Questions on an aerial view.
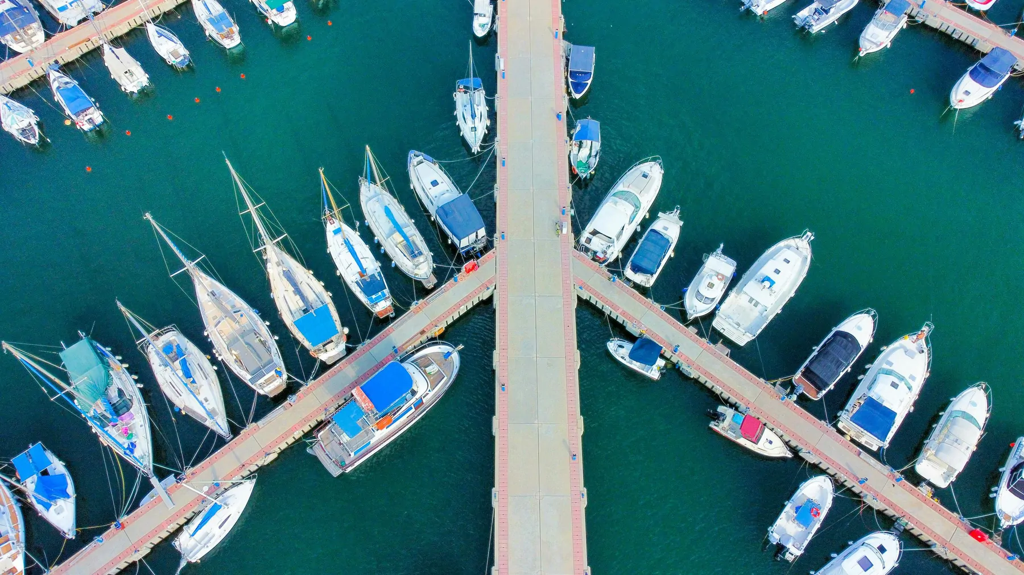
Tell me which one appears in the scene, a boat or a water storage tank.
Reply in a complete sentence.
The image shows a boat.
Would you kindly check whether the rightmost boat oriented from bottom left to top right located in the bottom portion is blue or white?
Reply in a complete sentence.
From above, the rightmost boat oriented from bottom left to top right located in the bottom portion appears white.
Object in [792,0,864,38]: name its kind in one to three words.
boat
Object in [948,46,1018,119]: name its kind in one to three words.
boat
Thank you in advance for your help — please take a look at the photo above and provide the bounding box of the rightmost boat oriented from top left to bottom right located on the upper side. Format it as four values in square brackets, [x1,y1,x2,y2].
[408,144,490,259]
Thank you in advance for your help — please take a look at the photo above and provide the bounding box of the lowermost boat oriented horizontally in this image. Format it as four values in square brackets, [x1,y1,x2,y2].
[810,535,908,575]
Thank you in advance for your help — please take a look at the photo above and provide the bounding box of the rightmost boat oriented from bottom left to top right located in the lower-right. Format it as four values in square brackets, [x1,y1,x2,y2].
[911,378,995,491]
